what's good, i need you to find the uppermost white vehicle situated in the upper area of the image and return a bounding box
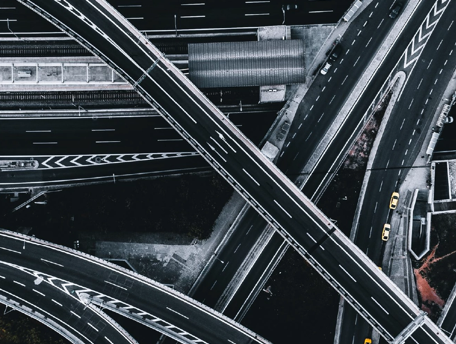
[320,60,333,76]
